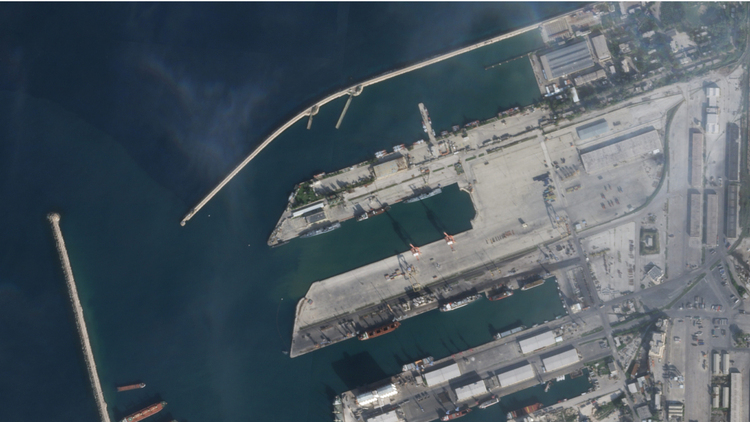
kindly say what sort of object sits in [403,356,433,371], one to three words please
ship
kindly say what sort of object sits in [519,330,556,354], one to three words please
building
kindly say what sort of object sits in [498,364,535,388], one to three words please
building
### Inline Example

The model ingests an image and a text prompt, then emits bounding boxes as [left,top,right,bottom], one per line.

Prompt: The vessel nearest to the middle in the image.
[357,205,391,221]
